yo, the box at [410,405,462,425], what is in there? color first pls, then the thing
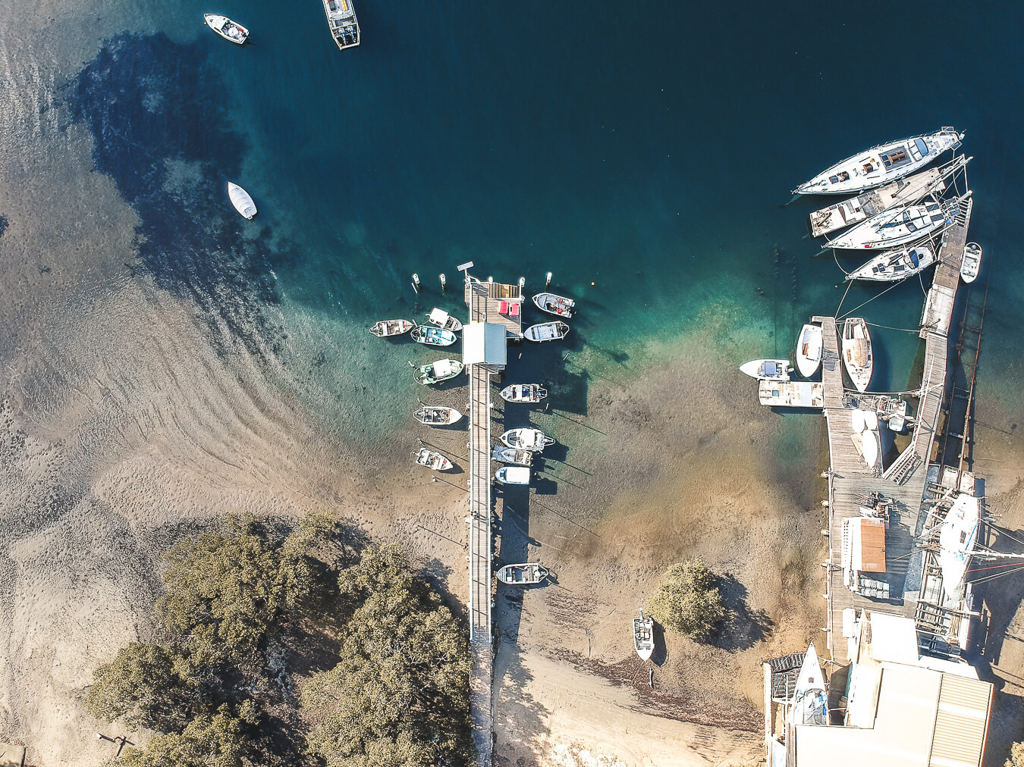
white boat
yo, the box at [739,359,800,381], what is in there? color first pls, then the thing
white boat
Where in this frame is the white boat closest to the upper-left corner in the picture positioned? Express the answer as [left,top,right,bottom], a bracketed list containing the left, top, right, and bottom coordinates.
[204,12,254,48]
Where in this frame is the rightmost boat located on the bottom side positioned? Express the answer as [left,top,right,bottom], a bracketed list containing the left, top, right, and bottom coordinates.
[933,491,1024,603]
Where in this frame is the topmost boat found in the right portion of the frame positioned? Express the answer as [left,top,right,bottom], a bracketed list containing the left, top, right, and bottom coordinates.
[792,120,973,196]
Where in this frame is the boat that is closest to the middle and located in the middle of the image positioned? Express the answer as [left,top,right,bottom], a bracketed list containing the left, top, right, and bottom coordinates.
[500,384,553,404]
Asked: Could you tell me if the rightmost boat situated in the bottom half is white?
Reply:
Yes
